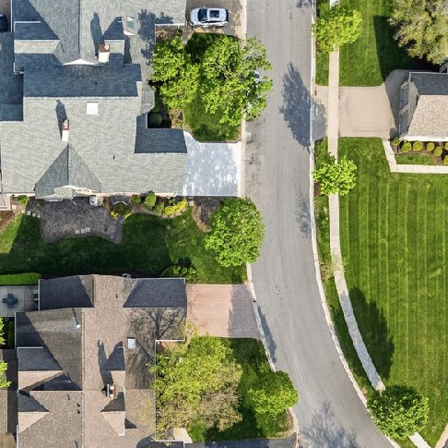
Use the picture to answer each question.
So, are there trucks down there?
No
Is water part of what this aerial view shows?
No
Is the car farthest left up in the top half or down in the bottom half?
top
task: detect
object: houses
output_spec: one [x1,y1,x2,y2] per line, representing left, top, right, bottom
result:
[0,274,187,448]
[0,0,187,202]
[397,2,448,143]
